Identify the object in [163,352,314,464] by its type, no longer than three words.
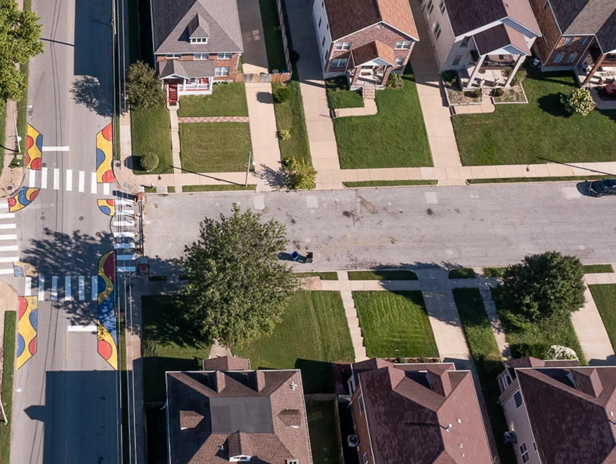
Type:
house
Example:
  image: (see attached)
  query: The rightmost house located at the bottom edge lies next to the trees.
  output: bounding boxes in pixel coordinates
[489,344,616,464]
